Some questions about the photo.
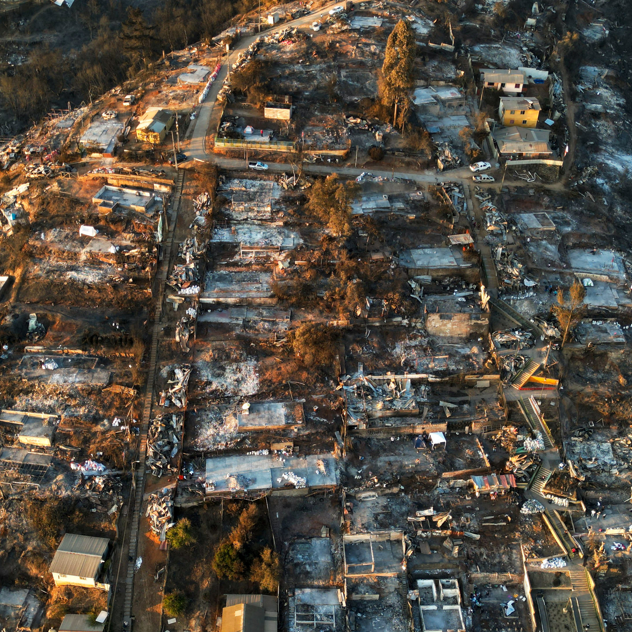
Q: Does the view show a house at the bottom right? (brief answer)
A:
Yes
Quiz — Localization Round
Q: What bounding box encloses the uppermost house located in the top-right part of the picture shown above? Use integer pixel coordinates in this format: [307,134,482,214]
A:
[479,67,528,100]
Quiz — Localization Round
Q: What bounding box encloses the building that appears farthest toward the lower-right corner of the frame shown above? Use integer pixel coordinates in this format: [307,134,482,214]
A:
[470,475,516,499]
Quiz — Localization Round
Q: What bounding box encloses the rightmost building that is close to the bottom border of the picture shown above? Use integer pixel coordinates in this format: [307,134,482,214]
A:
[221,594,277,632]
